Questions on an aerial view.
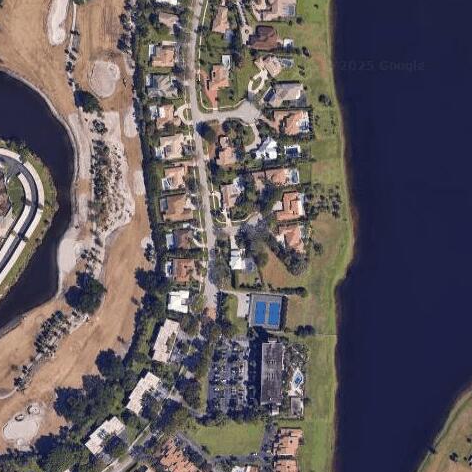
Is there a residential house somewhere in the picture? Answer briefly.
Yes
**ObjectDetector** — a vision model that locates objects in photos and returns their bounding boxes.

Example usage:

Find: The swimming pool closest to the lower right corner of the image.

[289,367,304,396]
